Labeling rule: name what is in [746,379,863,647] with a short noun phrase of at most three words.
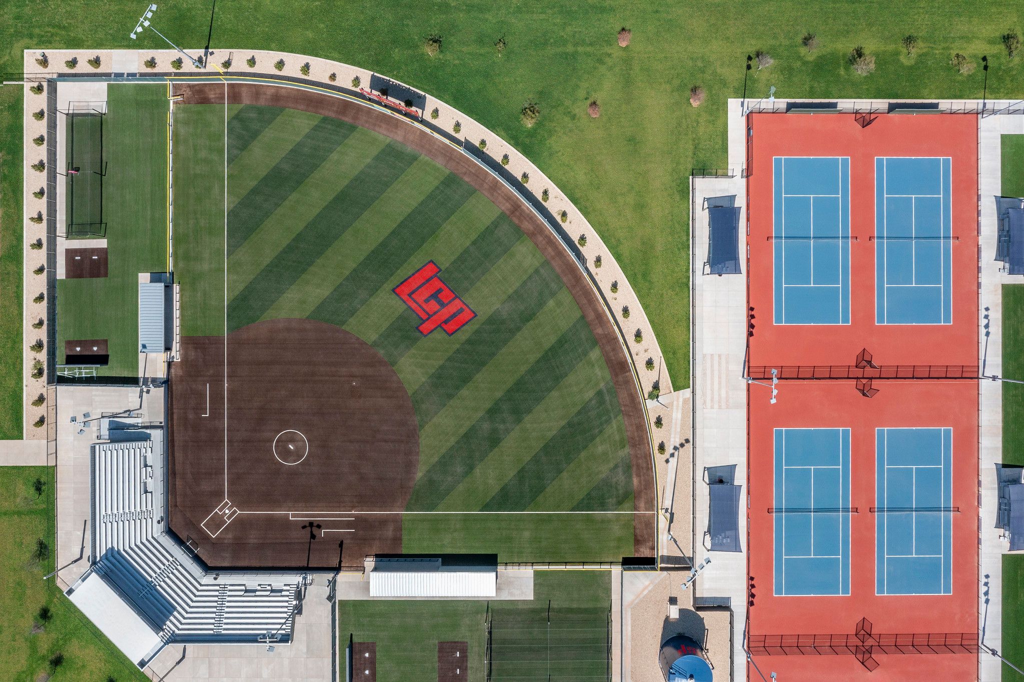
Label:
tennis court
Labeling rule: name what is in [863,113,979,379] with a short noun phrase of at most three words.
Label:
tennis court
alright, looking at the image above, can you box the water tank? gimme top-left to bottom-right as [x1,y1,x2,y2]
[658,634,714,682]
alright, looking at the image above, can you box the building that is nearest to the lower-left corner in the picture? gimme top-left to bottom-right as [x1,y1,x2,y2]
[64,552,184,669]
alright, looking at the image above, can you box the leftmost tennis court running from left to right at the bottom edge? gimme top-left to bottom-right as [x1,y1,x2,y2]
[746,647,863,682]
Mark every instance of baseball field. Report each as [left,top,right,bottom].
[167,82,656,570]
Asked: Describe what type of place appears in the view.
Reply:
sports ground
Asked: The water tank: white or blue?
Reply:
blue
